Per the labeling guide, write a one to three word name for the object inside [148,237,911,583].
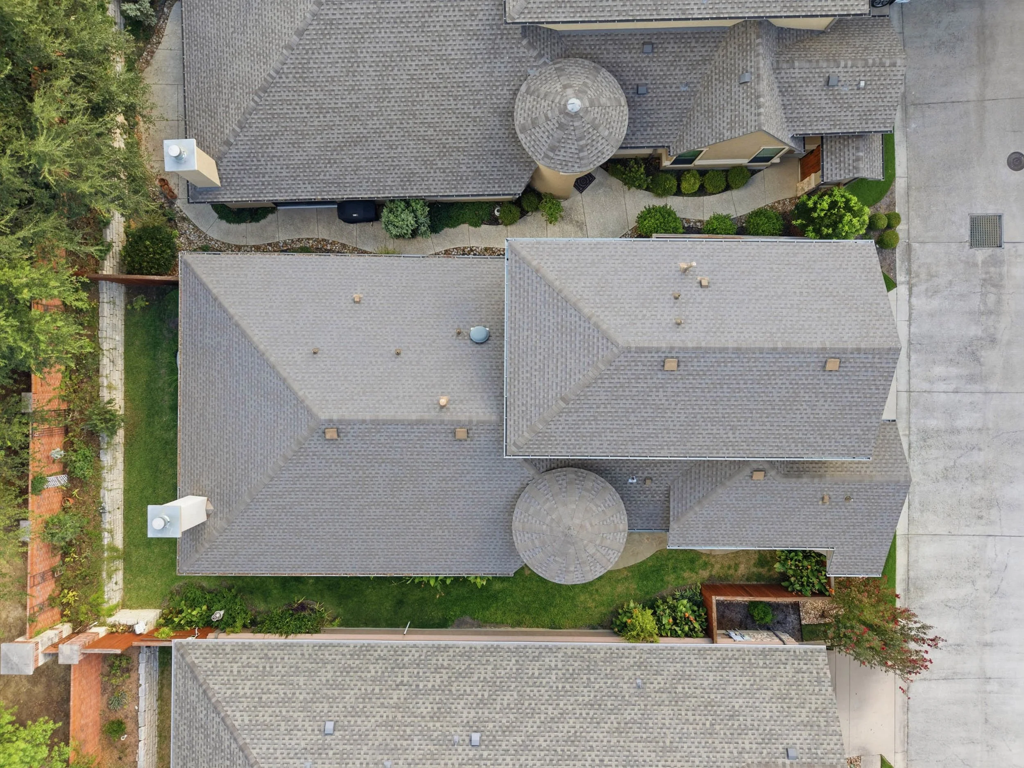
house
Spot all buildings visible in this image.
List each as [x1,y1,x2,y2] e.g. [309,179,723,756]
[163,0,907,211]
[148,237,911,583]
[171,623,848,768]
